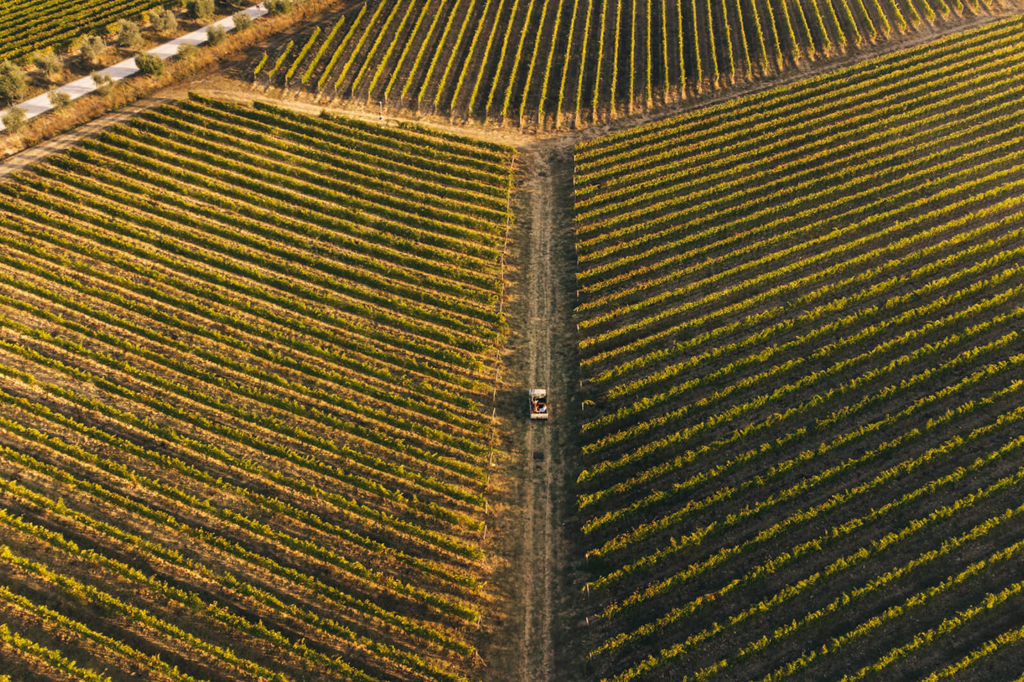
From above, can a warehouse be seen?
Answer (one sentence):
No, I can't see a single warehouse in this photo.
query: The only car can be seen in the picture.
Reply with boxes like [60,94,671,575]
[530,388,548,420]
